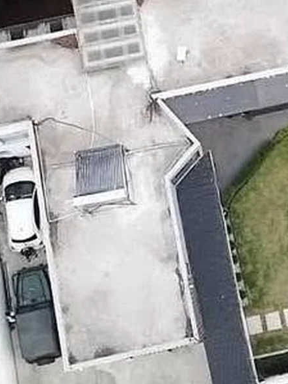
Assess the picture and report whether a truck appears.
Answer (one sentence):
No, no truck can be seen from above.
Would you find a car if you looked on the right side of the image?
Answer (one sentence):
No, no car appears on the right side of the image.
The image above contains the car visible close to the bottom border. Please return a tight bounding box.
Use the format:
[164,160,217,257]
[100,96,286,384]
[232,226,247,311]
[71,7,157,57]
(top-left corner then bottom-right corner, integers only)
[8,264,64,372]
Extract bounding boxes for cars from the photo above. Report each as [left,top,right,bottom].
[0,171,47,255]
[8,264,64,372]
